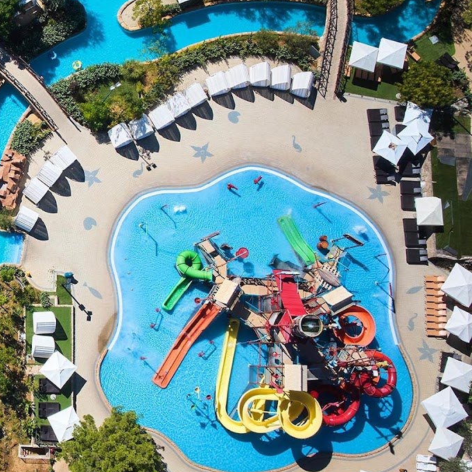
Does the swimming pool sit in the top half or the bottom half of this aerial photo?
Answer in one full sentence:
The swimming pool is in the bottom half of the image.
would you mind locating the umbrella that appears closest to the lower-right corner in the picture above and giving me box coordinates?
[424,423,464,462]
